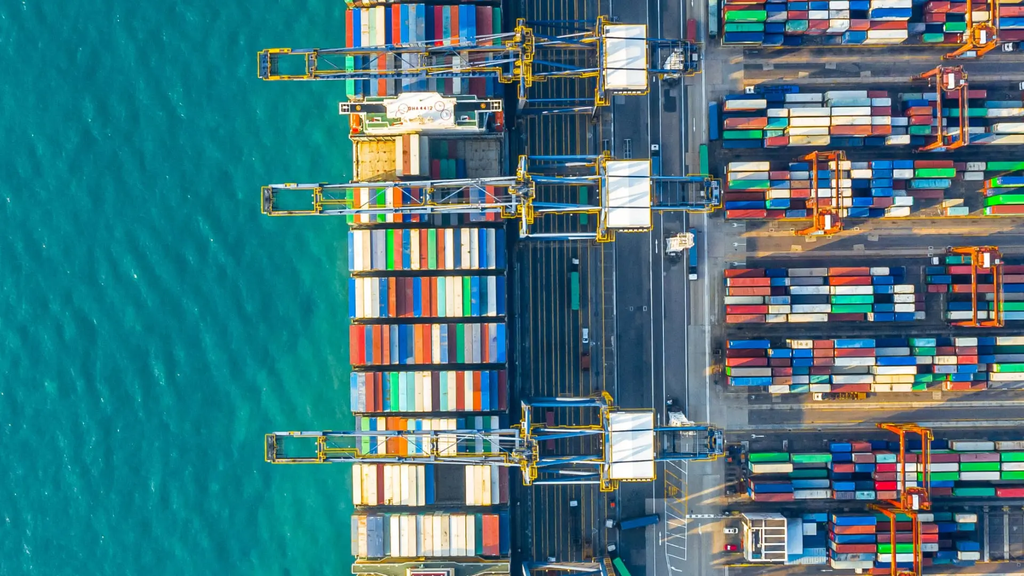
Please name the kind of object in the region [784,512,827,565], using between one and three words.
shed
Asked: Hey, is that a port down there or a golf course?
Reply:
port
